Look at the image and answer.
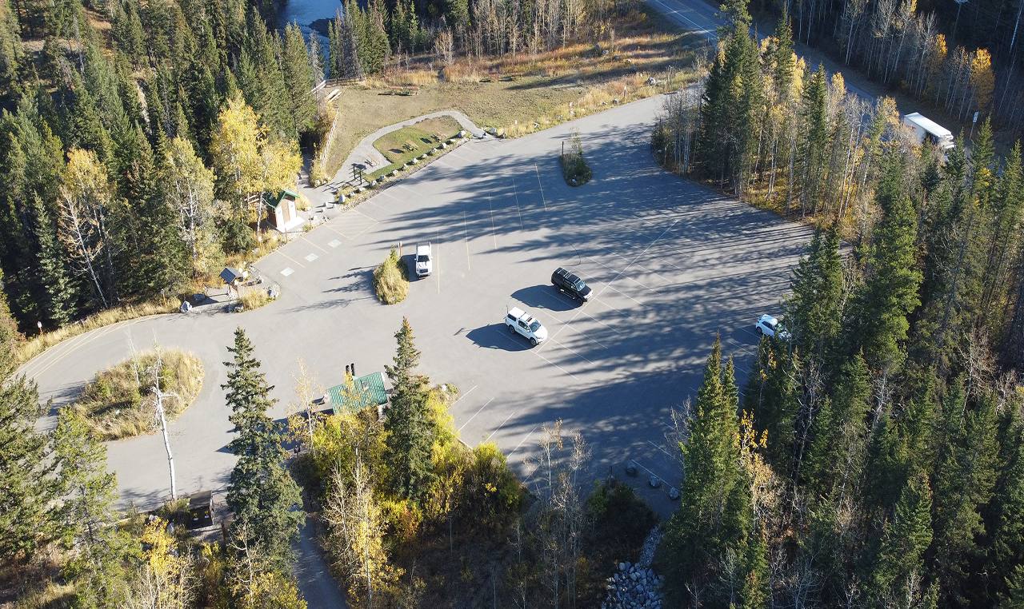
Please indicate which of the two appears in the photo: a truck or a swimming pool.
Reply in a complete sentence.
It is a truck that can be seen here.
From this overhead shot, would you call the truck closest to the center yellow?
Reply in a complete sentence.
No, the color of the truck closest to the center is white.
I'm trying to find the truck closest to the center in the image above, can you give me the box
[505,310,551,345]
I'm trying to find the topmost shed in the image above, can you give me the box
[249,182,309,232]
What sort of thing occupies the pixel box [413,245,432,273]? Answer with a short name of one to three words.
vehicle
